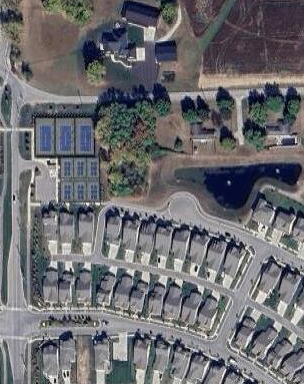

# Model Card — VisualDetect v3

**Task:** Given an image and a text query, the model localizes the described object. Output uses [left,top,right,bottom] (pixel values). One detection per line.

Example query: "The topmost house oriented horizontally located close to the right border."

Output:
[264,122,294,136]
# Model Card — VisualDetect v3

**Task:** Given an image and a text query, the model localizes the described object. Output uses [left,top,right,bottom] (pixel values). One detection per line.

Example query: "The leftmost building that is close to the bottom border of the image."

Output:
[42,341,58,373]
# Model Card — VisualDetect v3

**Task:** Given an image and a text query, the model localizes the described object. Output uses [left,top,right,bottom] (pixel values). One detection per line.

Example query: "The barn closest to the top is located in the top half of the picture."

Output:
[120,0,161,29]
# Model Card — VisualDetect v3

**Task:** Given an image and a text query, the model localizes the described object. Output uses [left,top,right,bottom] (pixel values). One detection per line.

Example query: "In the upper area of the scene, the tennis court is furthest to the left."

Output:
[35,118,54,155]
